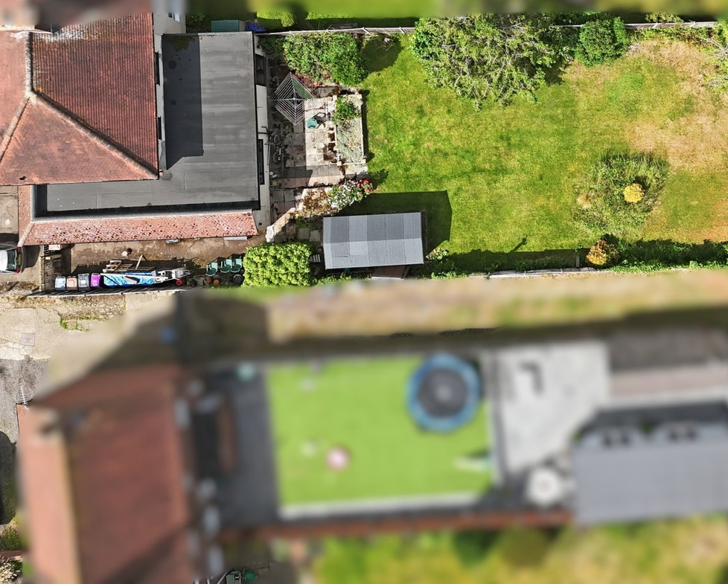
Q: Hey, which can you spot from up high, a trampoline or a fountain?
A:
trampoline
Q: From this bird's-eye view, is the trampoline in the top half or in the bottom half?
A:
bottom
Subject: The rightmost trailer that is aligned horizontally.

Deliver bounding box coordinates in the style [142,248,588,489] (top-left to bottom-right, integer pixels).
[100,263,194,290]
